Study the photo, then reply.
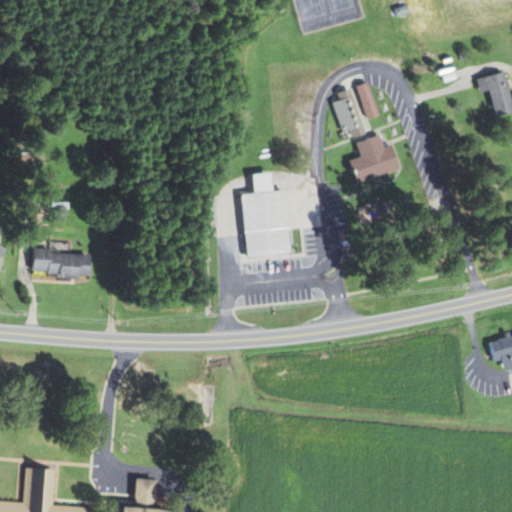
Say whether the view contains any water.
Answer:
No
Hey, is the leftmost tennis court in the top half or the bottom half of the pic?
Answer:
top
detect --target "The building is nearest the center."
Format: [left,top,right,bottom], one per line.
[242,172,292,257]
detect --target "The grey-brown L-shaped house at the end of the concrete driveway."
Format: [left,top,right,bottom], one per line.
[476,71,512,114]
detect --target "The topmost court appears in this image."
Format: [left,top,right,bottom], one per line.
[295,0,364,34]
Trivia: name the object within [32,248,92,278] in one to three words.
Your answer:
house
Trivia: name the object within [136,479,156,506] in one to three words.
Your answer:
building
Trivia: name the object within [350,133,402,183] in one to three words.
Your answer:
building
